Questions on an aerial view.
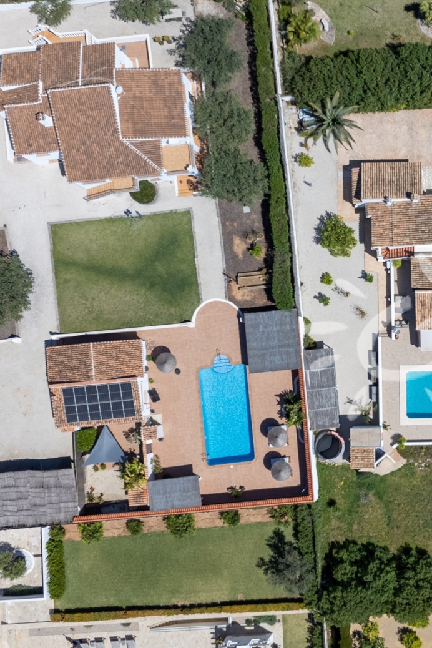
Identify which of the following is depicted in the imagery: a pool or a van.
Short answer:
pool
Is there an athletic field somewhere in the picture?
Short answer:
No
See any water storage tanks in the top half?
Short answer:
No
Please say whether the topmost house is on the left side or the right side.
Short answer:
left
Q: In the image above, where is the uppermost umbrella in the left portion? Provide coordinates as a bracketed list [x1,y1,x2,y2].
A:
[155,352,177,374]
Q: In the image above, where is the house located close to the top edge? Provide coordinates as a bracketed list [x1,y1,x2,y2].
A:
[0,25,204,200]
